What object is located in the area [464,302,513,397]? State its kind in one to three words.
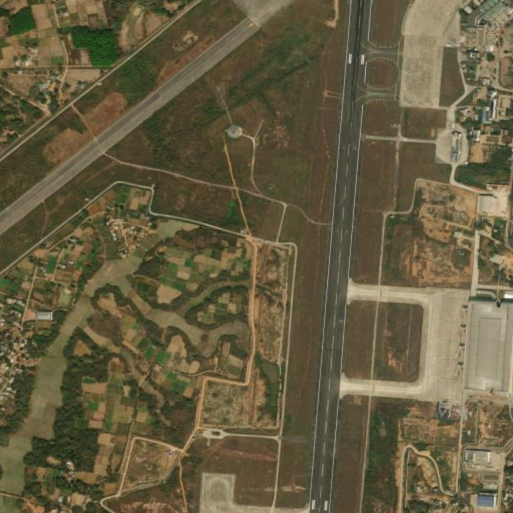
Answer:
building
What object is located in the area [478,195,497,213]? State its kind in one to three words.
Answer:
building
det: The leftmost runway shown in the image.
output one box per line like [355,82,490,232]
[0,18,258,234]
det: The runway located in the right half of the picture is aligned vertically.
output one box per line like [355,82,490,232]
[306,0,375,513]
